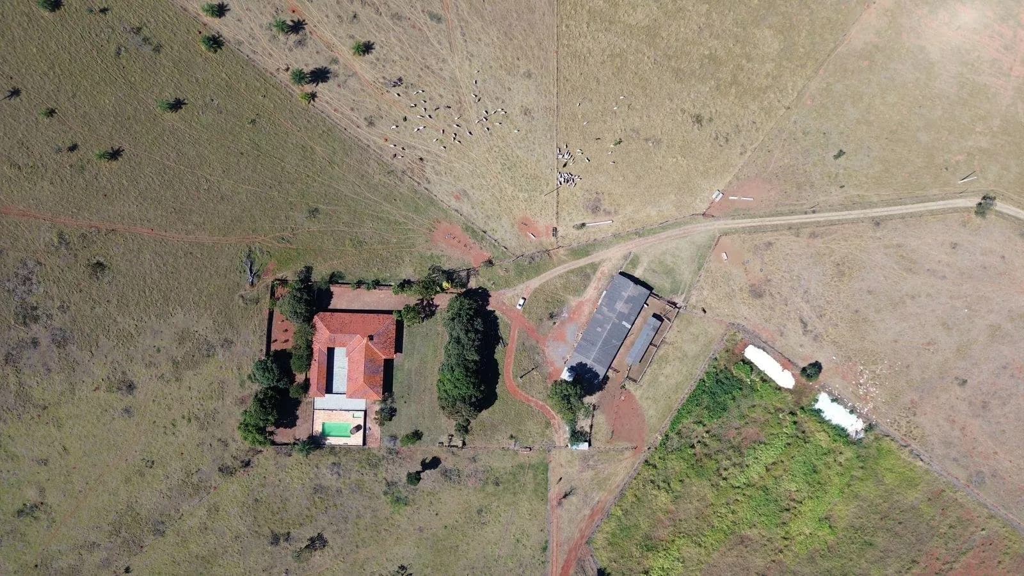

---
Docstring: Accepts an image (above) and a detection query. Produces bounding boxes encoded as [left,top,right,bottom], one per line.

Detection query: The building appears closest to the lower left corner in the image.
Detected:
[309,312,401,399]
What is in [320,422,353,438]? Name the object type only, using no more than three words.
swimming pool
